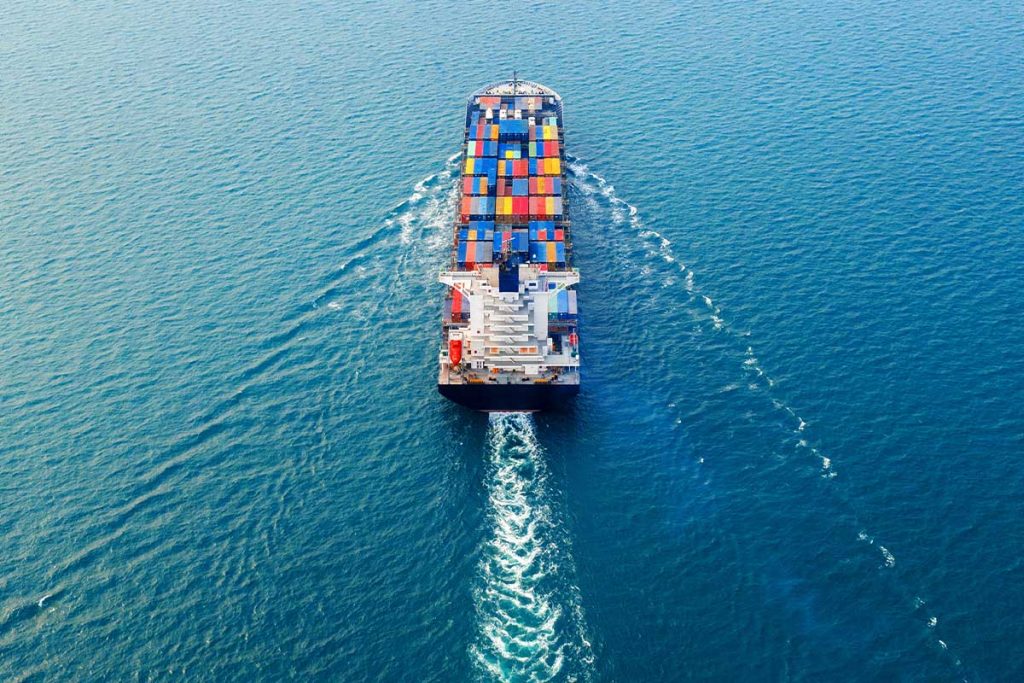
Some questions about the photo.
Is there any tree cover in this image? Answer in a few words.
No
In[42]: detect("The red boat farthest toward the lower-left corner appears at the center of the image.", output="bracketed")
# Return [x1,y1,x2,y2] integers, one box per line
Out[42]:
[450,337,462,367]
